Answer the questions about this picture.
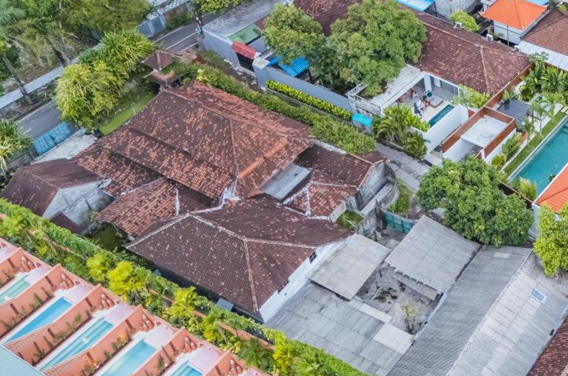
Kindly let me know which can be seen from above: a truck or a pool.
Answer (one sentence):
The image shows a pool.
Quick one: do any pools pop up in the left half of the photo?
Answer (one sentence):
Yes, a pool shows up in the left half of the photo.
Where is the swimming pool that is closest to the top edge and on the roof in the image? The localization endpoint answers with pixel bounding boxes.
[428,105,453,128]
